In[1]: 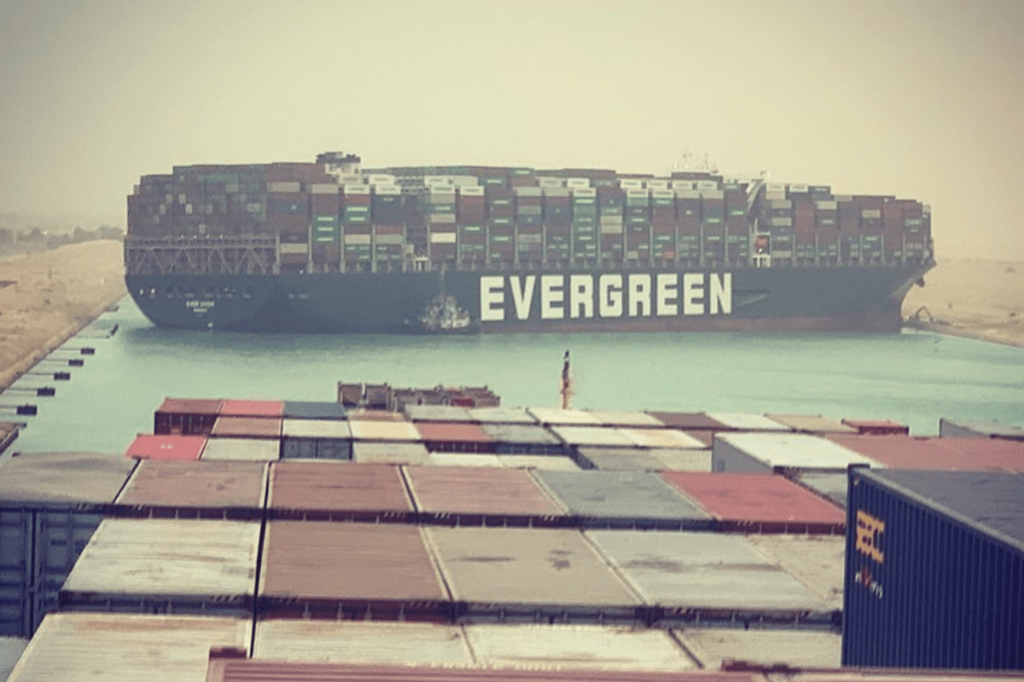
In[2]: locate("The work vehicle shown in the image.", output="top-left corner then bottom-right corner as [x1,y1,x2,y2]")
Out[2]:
[909,304,937,321]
